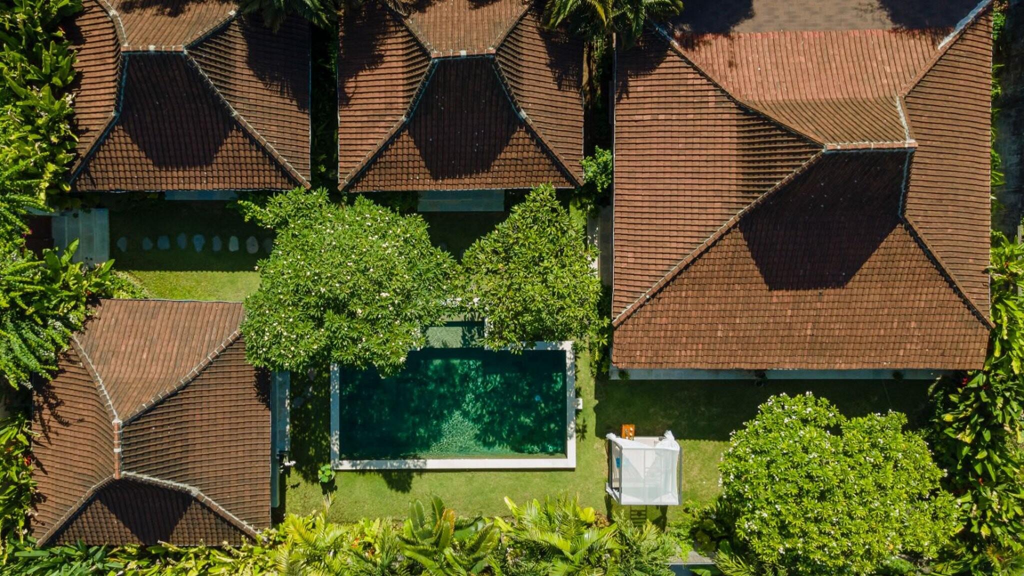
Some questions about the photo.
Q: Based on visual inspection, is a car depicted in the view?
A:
No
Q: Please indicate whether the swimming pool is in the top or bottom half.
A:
bottom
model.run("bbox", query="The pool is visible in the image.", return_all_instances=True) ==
[330,303,576,469]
